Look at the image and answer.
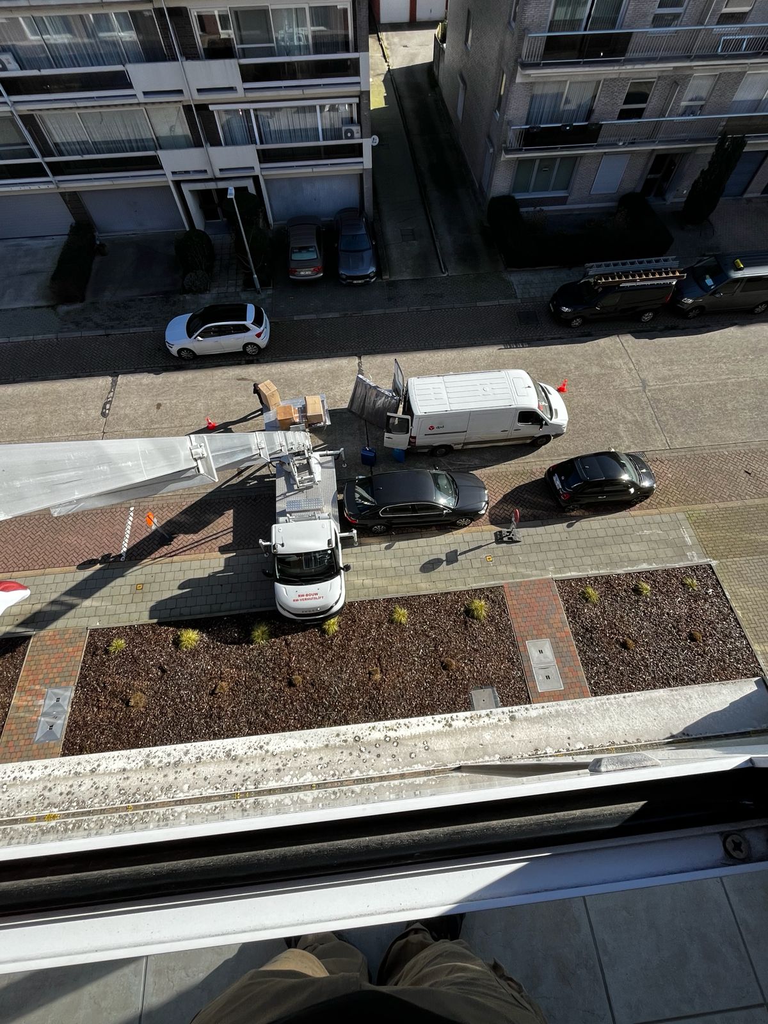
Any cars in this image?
Yes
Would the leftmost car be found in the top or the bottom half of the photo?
top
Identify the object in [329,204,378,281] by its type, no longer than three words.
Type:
car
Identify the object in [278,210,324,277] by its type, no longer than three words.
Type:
car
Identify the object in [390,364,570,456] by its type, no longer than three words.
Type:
van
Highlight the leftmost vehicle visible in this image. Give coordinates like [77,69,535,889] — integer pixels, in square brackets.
[163,301,269,360]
